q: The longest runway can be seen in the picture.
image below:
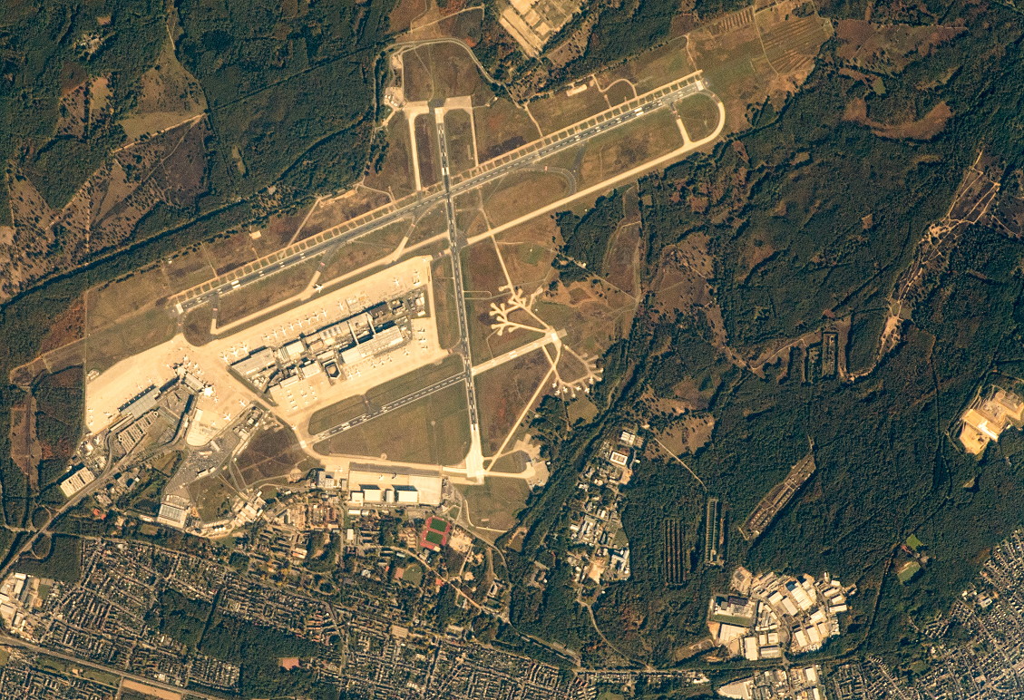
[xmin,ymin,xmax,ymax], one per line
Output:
[175,79,704,314]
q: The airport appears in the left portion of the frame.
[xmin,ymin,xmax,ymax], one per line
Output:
[85,53,726,506]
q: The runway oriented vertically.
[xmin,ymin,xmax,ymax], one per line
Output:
[435,107,484,485]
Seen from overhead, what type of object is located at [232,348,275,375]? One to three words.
building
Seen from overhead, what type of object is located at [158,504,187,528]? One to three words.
building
